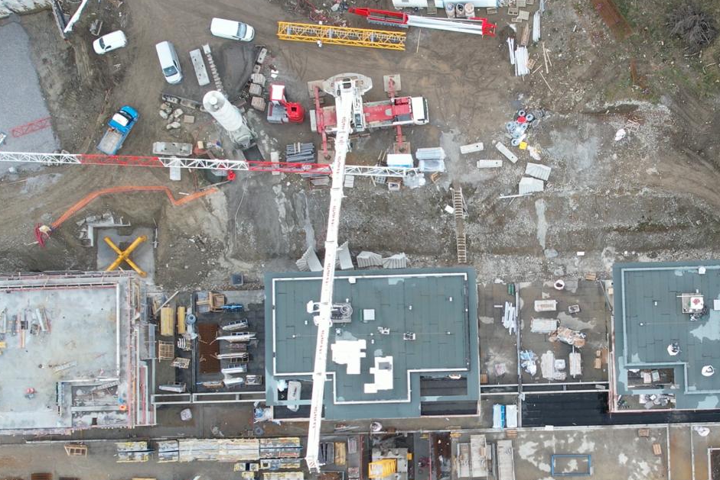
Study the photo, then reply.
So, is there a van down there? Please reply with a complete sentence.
Yes, looking at the shot, I can spot a van.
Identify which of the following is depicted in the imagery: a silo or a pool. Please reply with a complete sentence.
This aerial view contains a silo.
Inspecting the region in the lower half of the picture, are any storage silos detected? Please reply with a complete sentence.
No, the scene shows no storage silo in the lower half of the picture.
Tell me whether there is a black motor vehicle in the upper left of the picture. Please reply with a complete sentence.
No, I see no black motor vehicle in the upper left of the picture.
